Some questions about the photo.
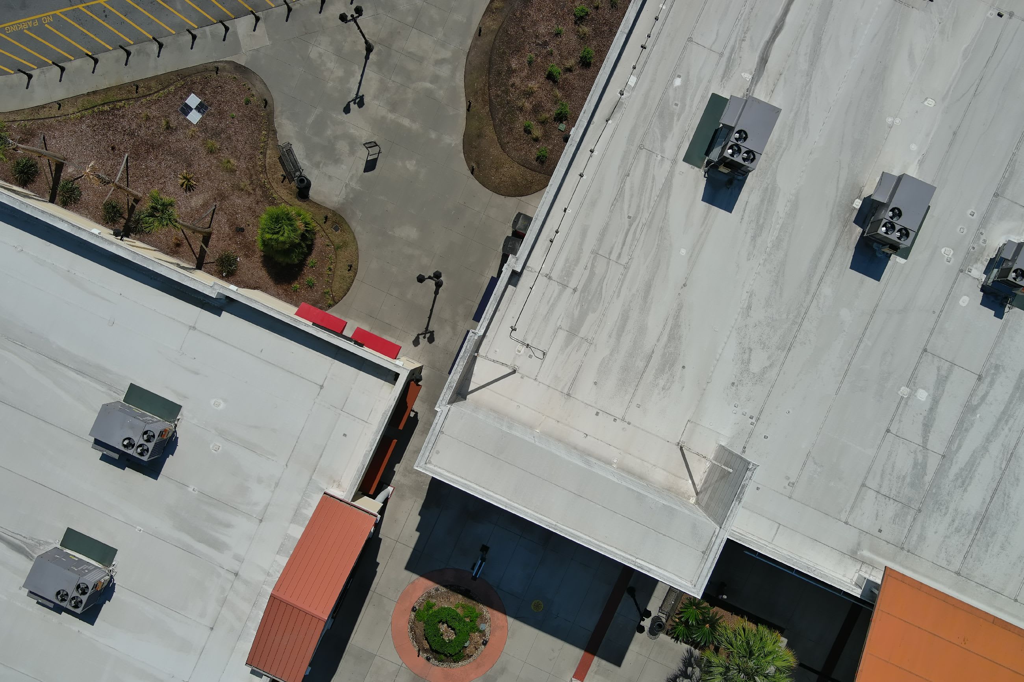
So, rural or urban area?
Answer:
urban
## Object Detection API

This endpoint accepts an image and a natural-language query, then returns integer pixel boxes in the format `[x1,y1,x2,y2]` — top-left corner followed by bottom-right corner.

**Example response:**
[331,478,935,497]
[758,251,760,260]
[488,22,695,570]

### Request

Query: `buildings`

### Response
[0,179,423,682]
[412,0,1024,628]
